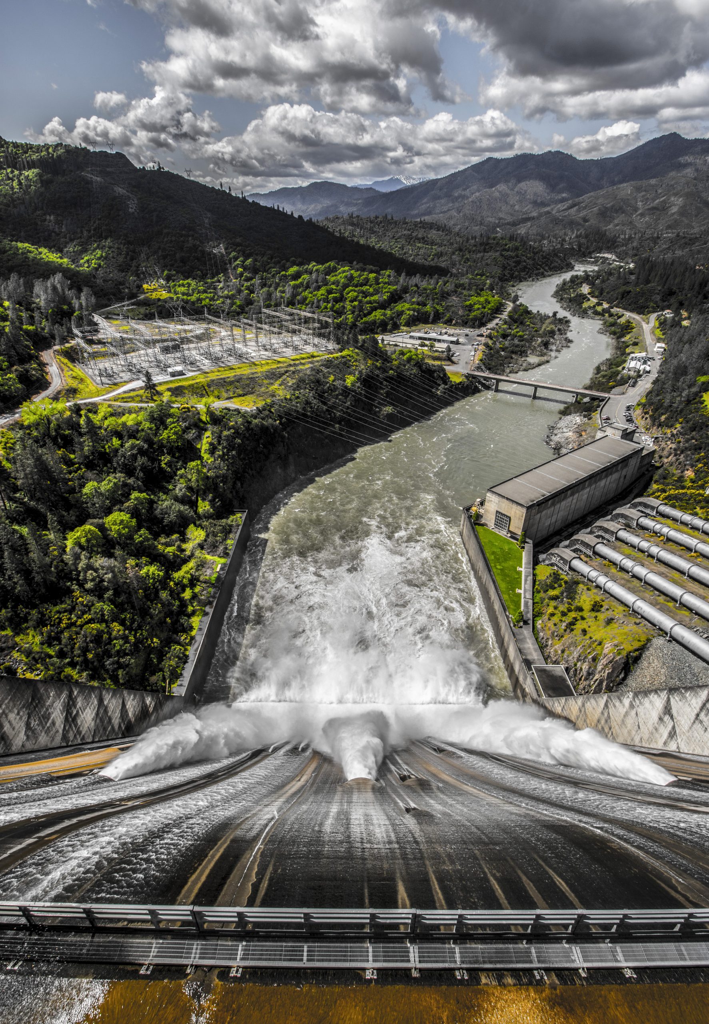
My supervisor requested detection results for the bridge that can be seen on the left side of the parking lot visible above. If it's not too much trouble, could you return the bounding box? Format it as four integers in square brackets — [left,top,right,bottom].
[466,369,610,398]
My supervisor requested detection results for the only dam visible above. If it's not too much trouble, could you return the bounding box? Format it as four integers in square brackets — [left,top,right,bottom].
[0,683,709,1024]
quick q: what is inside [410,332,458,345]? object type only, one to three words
shed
